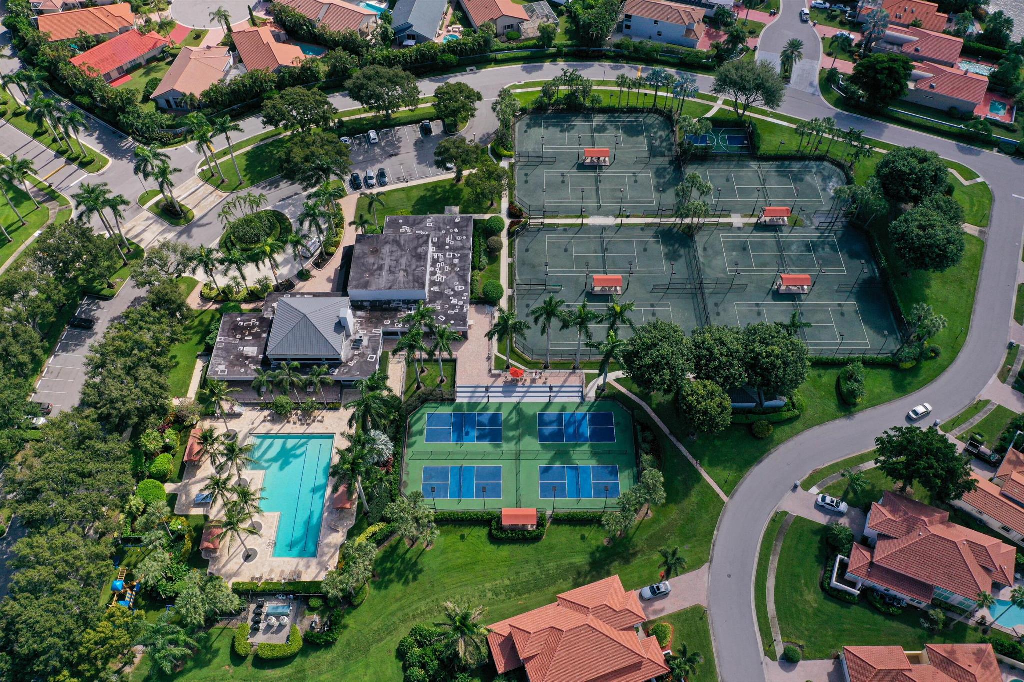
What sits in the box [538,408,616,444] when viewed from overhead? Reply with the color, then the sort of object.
blue sports court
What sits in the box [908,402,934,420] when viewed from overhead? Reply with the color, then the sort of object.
white car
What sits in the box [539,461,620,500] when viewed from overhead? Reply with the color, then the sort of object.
blue sports court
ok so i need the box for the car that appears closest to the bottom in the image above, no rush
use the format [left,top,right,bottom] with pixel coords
[640,579,673,600]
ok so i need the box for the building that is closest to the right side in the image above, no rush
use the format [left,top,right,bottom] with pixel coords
[959,447,1024,546]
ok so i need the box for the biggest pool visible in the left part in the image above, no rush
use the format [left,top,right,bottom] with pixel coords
[245,432,337,560]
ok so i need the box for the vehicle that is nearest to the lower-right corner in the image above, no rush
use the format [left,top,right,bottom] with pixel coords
[964,440,1002,465]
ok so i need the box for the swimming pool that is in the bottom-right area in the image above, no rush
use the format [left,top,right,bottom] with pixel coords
[988,598,1024,627]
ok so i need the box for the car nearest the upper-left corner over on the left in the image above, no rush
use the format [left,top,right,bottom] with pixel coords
[68,318,95,330]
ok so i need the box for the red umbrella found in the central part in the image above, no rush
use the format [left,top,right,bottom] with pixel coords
[510,367,527,382]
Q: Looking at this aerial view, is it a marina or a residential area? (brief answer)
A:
residential area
